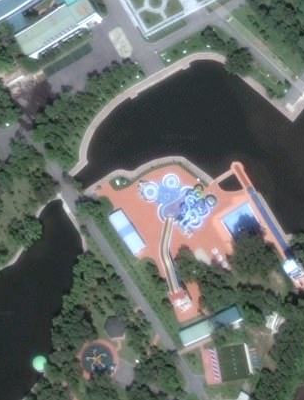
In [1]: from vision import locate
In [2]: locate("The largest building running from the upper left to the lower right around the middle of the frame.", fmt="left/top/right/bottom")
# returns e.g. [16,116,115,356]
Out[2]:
[110,209,147,254]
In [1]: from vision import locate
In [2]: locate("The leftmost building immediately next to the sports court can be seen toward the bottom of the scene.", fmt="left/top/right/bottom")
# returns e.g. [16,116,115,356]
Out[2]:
[180,318,213,346]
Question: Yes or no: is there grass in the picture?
Yes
